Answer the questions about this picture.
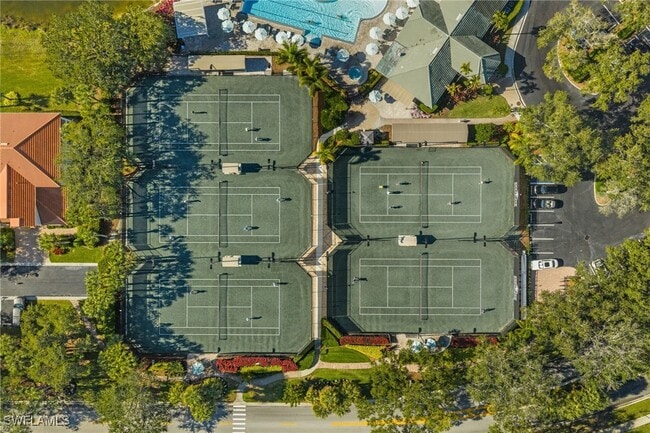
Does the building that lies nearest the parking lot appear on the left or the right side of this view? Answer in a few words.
right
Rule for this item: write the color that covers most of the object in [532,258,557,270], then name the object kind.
white vehicle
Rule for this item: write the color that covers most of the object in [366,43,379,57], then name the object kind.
white umbrella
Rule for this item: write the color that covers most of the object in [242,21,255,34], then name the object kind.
white umbrella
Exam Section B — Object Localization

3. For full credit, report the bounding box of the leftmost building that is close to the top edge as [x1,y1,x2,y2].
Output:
[173,0,211,43]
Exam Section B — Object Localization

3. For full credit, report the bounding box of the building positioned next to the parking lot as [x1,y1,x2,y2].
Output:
[390,0,508,108]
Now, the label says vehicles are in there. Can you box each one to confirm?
[0,307,10,331]
[12,298,28,326]
[533,198,557,210]
[533,185,557,196]
[532,258,557,270]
